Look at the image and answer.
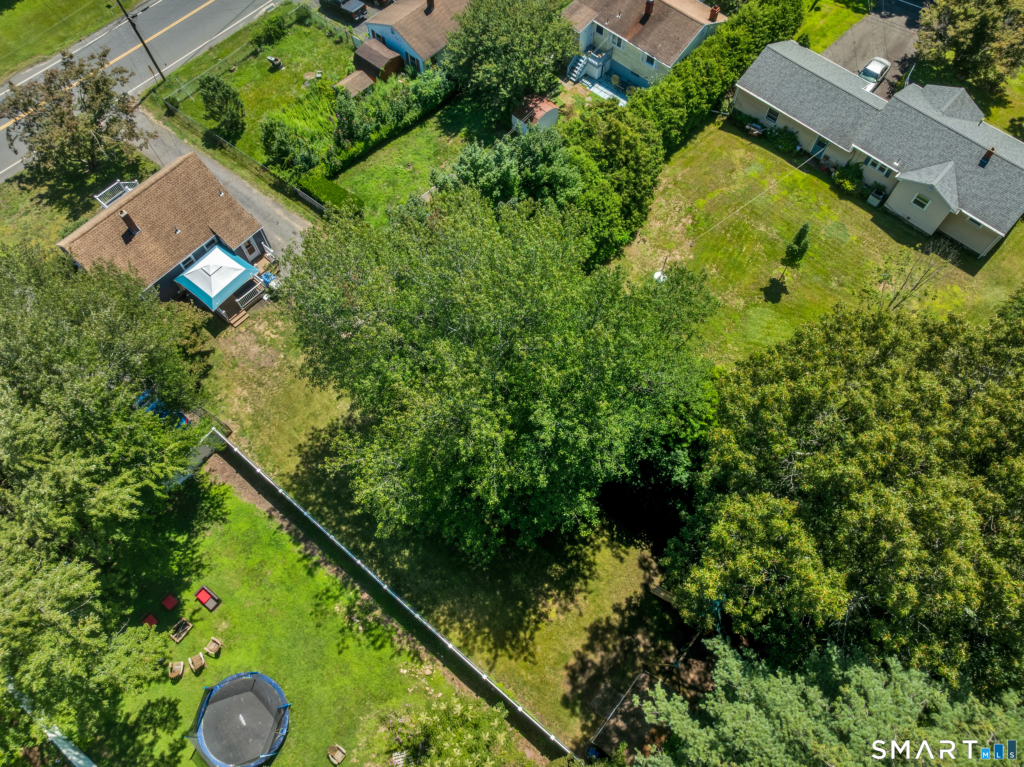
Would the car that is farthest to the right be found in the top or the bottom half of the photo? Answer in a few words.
top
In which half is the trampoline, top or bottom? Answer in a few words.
bottom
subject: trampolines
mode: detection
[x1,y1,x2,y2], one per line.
[186,668,296,767]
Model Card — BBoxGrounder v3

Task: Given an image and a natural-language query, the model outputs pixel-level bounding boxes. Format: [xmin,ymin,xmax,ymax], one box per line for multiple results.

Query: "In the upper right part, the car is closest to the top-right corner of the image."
[857,54,895,91]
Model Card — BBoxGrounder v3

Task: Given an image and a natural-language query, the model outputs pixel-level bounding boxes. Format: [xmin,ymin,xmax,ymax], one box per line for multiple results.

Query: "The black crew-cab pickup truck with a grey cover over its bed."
[317,0,370,22]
